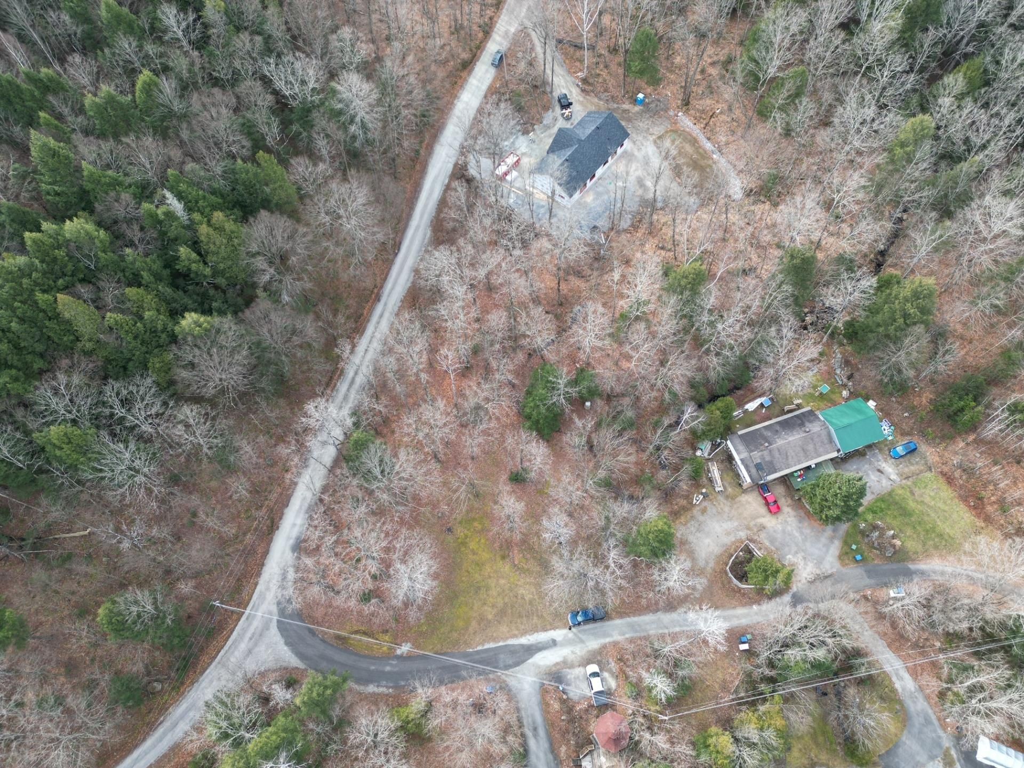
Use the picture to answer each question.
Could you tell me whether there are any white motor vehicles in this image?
Yes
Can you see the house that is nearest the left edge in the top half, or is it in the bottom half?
top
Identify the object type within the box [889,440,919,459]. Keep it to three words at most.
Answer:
car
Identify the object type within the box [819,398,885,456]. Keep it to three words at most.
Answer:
building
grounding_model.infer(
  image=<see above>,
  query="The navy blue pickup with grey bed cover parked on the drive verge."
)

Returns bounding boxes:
[567,605,608,625]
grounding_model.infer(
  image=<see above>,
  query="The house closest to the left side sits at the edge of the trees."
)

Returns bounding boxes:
[529,111,630,205]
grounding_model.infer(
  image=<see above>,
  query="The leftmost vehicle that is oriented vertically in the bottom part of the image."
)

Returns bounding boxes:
[586,662,608,707]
